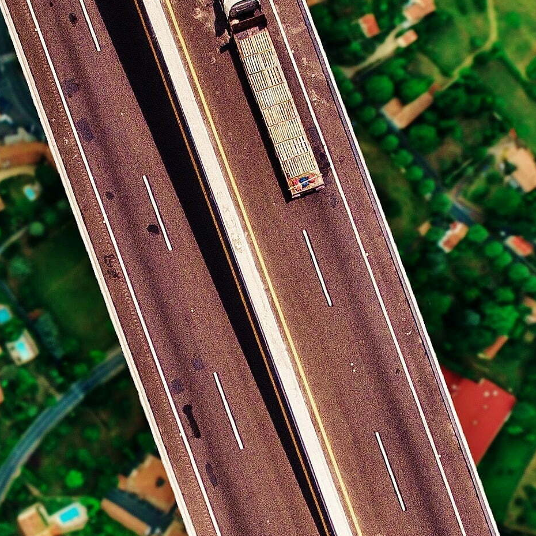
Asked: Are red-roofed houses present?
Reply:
Yes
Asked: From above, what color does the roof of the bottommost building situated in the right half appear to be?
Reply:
red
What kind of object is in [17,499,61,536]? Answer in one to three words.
house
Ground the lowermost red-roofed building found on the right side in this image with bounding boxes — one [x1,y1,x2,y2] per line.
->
[434,356,518,468]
